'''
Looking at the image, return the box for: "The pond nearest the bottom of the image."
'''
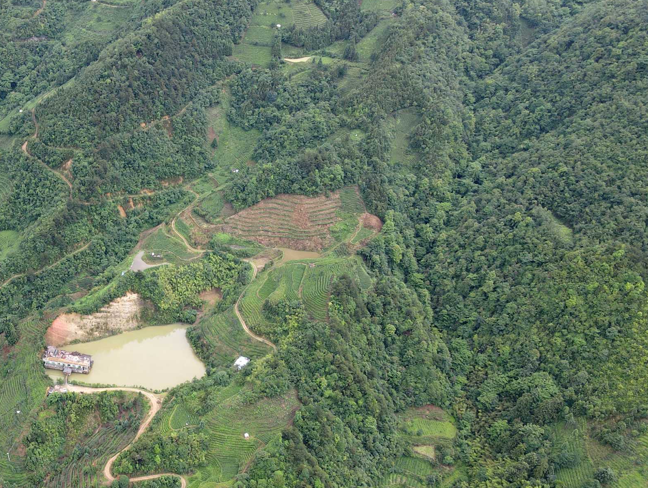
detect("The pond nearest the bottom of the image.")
[46,323,207,390]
